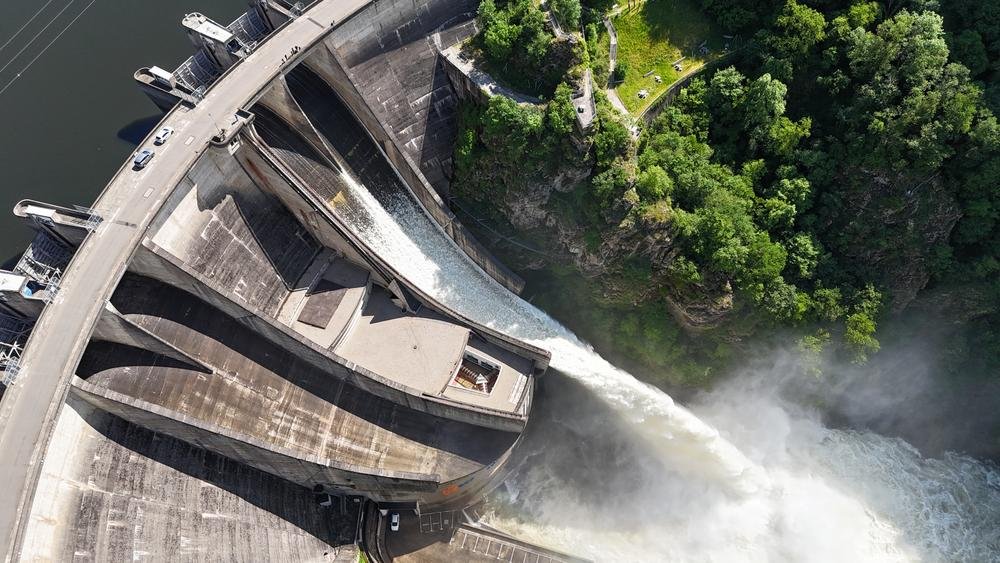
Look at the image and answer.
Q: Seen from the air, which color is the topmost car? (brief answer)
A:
white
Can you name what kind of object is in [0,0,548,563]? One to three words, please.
dam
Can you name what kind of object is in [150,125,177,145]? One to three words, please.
car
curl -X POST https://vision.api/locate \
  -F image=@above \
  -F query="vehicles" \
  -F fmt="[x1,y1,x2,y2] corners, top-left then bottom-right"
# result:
[391,512,400,532]
[128,147,158,171]
[150,125,177,145]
